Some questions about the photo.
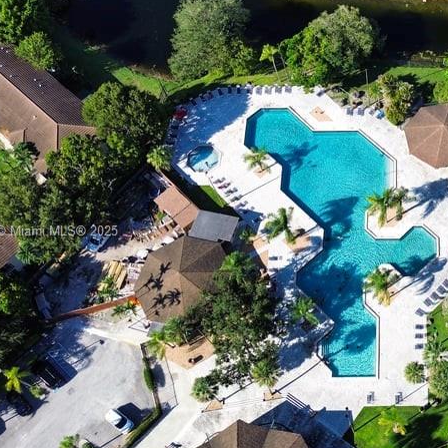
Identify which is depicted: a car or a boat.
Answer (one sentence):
This aerial view contains a car.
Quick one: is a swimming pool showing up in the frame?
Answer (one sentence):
Yes, this view includes a swimming pool.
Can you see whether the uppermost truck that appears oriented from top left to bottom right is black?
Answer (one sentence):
Yes, the uppermost truck that appears oriented from top left to bottom right appears black.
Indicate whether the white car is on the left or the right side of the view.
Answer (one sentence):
It is on the left.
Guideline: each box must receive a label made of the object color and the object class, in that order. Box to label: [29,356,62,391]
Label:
black truck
